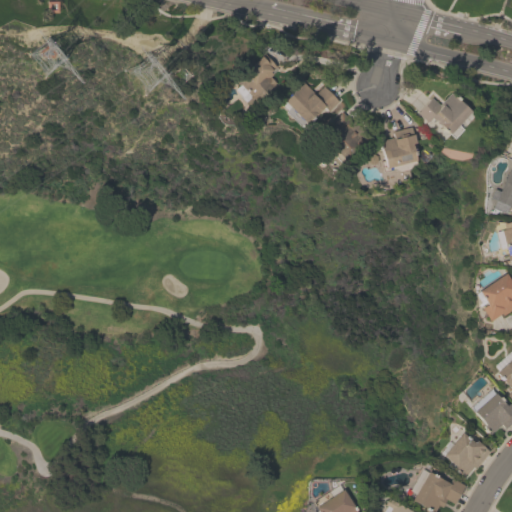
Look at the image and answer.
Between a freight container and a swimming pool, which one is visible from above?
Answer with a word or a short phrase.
swimming pool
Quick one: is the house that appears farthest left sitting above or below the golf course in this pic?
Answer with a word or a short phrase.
above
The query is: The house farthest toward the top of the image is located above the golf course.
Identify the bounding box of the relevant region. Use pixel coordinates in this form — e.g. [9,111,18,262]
[238,56,282,102]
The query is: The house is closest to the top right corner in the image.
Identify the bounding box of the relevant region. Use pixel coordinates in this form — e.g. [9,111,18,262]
[421,96,474,138]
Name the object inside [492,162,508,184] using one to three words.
swimming pool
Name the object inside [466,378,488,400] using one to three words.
swimming pool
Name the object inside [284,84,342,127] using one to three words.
house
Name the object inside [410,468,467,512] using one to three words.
house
